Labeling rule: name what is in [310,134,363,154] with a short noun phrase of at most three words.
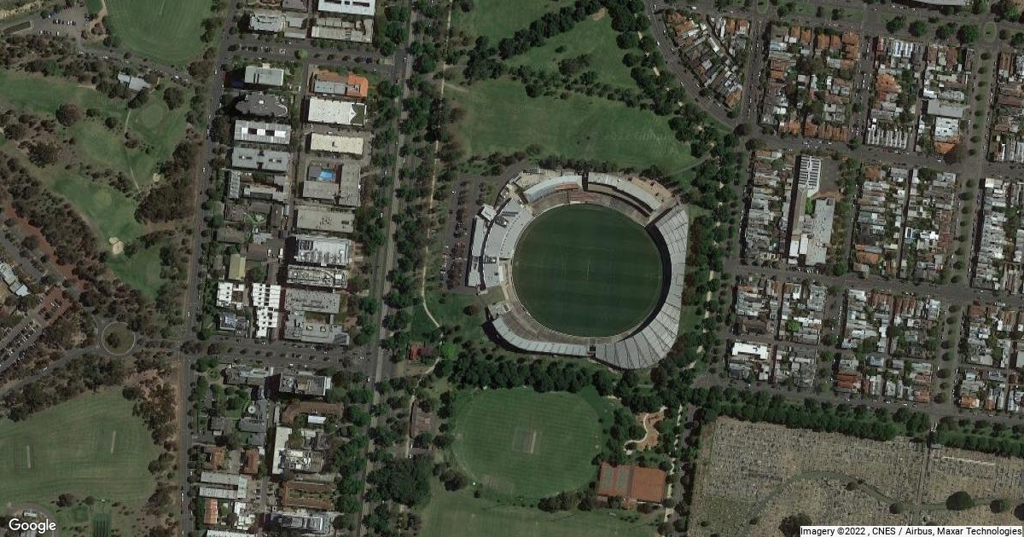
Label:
building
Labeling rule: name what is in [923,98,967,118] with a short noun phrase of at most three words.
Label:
house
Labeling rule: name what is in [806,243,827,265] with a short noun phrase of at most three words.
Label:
building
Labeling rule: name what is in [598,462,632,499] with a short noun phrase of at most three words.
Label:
tennis court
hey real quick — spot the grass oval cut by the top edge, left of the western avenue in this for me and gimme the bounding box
[105,0,212,65]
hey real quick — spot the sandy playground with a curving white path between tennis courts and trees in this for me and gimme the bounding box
[624,409,664,452]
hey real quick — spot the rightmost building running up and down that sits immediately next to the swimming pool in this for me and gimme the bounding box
[339,165,360,206]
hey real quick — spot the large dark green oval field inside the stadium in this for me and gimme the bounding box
[512,204,664,337]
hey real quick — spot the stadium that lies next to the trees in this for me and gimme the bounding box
[468,167,691,372]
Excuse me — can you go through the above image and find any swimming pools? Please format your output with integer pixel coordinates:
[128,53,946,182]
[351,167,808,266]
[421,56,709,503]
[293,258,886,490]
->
[307,164,339,182]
